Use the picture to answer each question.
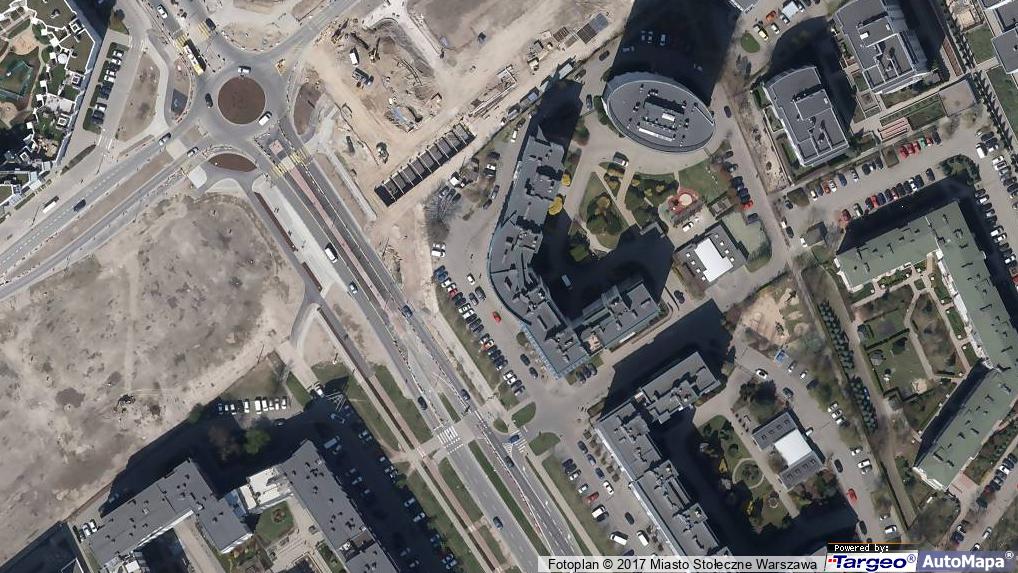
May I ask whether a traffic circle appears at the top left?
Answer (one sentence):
Yes, there is a traffic circle at the top left.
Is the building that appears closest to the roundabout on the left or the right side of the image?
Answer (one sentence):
The building that appears closest to the roundabout sits on the left side.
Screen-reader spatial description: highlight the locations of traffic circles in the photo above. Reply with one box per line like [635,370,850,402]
[196,56,287,146]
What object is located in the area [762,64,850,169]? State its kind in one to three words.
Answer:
building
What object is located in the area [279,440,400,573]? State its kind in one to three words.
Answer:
building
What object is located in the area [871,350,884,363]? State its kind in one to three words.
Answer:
gazebo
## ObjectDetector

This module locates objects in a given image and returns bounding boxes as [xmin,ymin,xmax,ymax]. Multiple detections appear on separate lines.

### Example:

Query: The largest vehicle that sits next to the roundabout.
[184,45,202,73]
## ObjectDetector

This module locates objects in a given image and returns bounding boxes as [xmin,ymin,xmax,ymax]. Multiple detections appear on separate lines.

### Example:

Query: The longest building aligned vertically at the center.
[489,125,592,378]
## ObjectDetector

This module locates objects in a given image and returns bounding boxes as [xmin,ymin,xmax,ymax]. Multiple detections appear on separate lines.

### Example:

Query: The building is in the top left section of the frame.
[0,0,103,211]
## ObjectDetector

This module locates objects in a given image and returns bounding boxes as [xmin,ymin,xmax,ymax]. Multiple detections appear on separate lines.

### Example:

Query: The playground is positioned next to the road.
[671,187,698,214]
